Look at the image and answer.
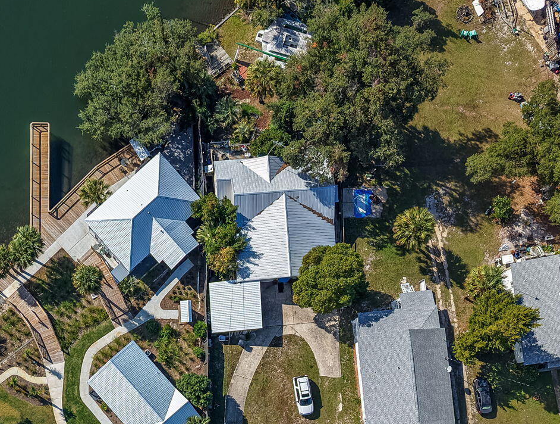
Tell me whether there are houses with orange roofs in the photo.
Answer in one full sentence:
No, no house with an orange roof is visible in the view.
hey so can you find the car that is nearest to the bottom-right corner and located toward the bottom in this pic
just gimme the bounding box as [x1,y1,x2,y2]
[474,378,493,416]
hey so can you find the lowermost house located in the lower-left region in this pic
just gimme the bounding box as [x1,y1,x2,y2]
[87,341,200,424]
